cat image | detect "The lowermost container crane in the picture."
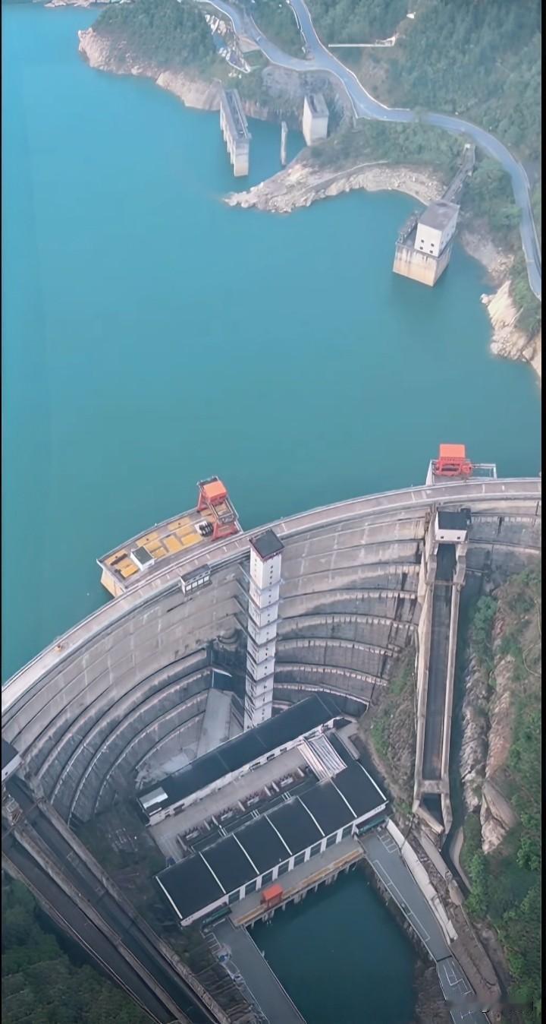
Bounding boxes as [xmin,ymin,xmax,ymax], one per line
[195,474,242,546]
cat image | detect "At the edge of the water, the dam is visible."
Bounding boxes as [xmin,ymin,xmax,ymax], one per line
[0,477,546,859]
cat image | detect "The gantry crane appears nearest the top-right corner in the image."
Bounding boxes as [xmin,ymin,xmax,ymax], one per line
[432,444,474,480]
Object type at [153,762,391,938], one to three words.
building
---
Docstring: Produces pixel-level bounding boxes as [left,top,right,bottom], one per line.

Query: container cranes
[432,444,474,480]
[195,474,242,546]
